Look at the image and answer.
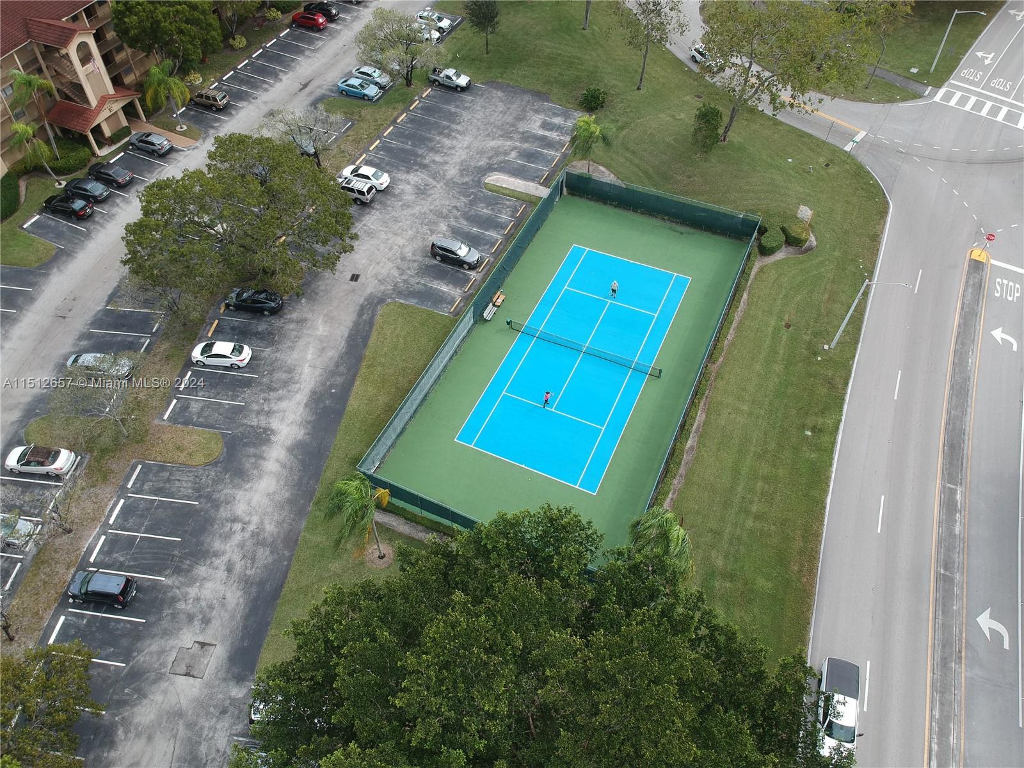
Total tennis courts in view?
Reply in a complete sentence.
Just 1 tennis court appears in this view.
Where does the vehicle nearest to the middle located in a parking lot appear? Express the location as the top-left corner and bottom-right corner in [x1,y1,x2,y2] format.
[429,236,481,269]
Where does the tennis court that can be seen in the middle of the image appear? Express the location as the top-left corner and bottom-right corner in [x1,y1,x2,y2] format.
[376,195,747,594]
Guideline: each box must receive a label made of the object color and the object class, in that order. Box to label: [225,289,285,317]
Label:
black car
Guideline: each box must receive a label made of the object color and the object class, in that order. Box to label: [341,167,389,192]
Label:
white car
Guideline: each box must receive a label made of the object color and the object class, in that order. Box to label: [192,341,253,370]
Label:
white car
